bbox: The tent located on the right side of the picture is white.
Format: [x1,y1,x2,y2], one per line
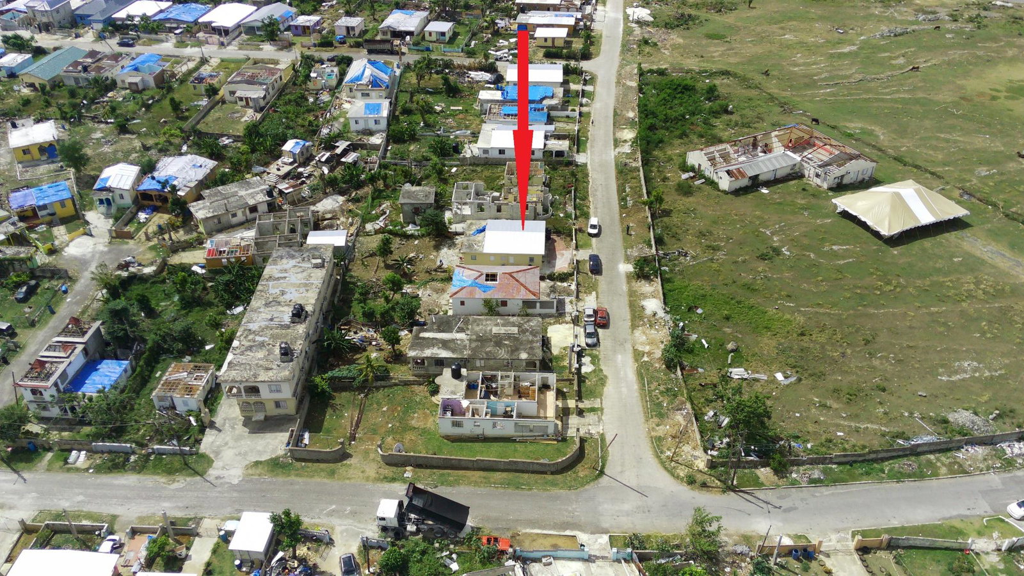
[826,182,972,249]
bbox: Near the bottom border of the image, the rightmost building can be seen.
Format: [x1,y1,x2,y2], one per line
[228,510,278,570]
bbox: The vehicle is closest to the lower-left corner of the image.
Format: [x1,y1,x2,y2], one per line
[96,531,129,548]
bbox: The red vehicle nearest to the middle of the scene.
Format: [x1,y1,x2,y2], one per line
[595,309,610,329]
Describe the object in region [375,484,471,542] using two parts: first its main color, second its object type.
black truck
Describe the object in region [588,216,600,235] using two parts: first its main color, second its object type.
white vehicle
